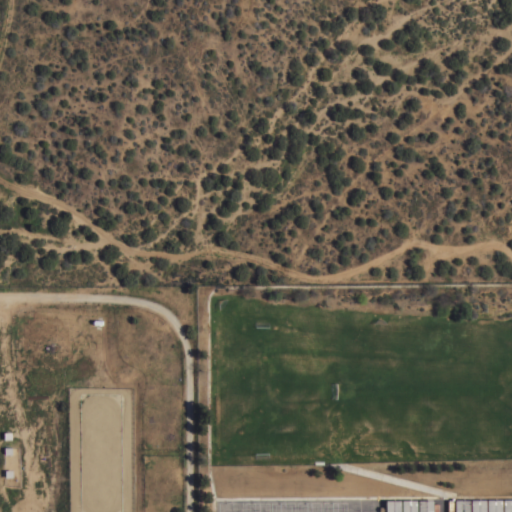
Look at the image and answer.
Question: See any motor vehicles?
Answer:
No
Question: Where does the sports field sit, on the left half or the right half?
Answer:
right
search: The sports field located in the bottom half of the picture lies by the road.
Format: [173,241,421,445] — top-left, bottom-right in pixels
[210,295,512,466]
